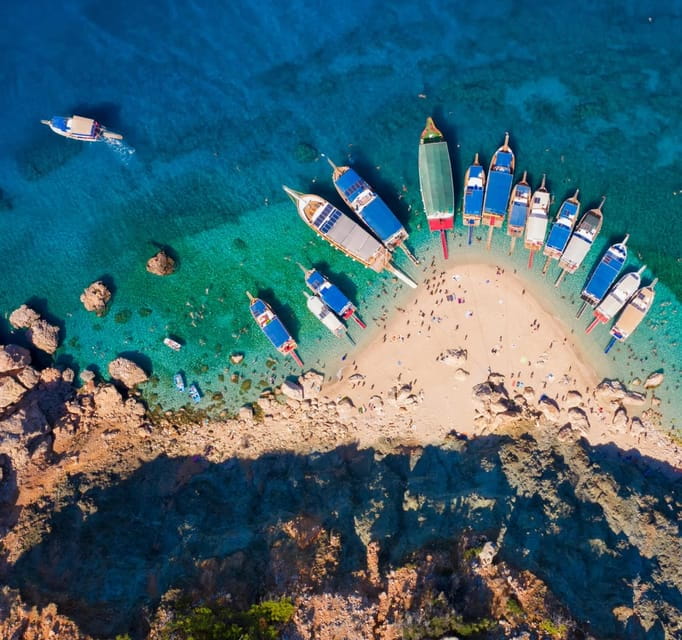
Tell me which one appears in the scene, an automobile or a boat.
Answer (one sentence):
Of the two, only a boat appears.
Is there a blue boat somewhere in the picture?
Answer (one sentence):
Yes, there's a blue boat down there.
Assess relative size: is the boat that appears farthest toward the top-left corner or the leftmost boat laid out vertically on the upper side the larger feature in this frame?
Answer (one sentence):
The boat that appears farthest toward the top-left corner is smaller than the leftmost boat laid out vertically on the upper side.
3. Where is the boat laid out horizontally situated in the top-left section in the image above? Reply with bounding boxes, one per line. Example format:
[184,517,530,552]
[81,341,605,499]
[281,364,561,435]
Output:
[40,117,122,145]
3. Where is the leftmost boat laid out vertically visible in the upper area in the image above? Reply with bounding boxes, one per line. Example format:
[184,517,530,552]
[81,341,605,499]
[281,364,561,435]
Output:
[419,118,455,259]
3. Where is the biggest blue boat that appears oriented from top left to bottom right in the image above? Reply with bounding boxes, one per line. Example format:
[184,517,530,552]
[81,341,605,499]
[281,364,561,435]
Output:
[329,157,415,262]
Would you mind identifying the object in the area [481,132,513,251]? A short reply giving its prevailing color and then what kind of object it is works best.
blue boat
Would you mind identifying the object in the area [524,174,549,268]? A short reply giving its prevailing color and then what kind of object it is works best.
white boat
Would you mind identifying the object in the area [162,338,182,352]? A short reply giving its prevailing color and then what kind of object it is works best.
white boat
